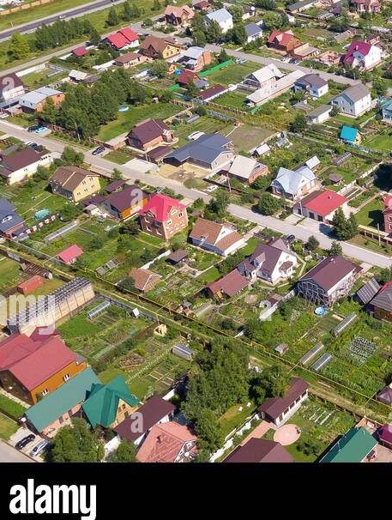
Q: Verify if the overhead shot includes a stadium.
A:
No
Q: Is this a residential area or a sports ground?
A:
residential area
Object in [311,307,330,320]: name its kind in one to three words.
swimming pool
